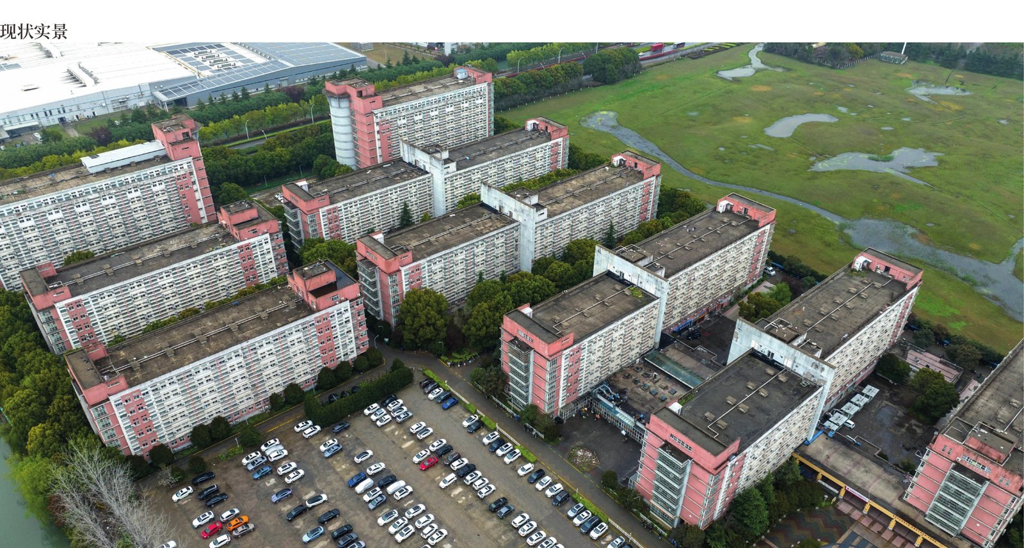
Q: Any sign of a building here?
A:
Yes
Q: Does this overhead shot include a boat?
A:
No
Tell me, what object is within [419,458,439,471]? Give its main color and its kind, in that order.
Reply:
red vehicle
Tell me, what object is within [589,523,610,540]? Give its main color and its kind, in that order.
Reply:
white car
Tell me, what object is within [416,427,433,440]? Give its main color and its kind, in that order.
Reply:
white vehicle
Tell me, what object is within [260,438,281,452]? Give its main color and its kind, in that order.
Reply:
white car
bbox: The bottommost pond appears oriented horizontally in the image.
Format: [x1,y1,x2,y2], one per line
[809,147,943,187]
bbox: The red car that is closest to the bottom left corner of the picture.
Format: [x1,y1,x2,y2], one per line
[200,522,224,539]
